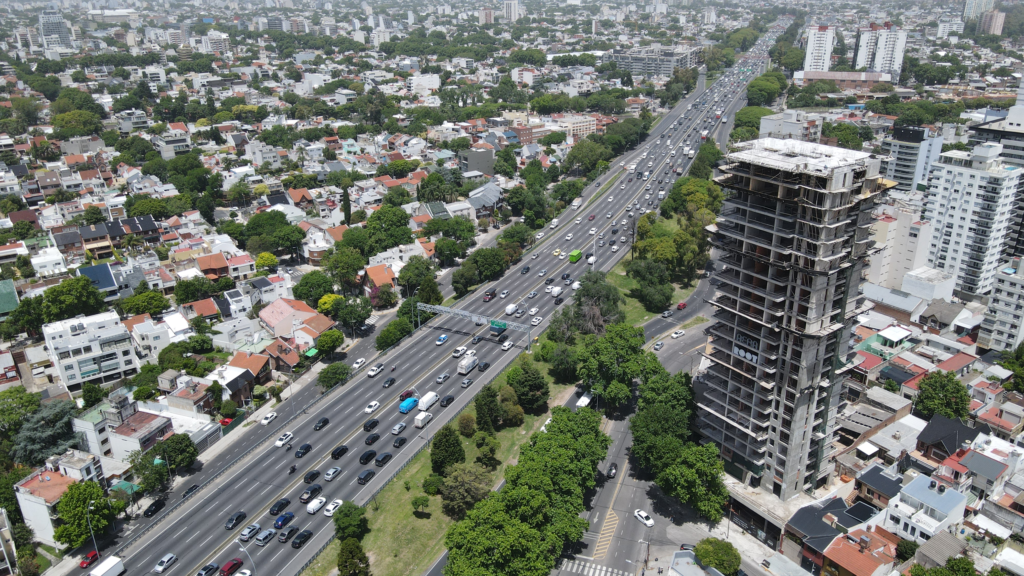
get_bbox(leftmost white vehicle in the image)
[92,546,133,576]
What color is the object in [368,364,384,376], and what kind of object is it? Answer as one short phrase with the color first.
white vehicle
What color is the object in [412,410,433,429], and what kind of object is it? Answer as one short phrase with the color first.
white vehicle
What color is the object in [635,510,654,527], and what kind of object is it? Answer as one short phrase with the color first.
white car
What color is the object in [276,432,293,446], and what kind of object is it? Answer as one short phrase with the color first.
white car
